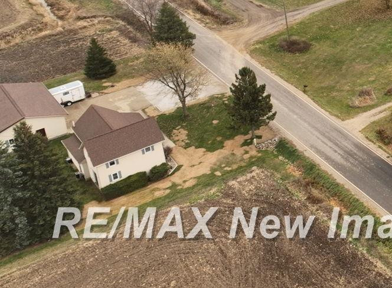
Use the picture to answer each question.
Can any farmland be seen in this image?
Yes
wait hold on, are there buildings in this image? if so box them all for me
[0,81,70,156]
[54,104,165,190]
